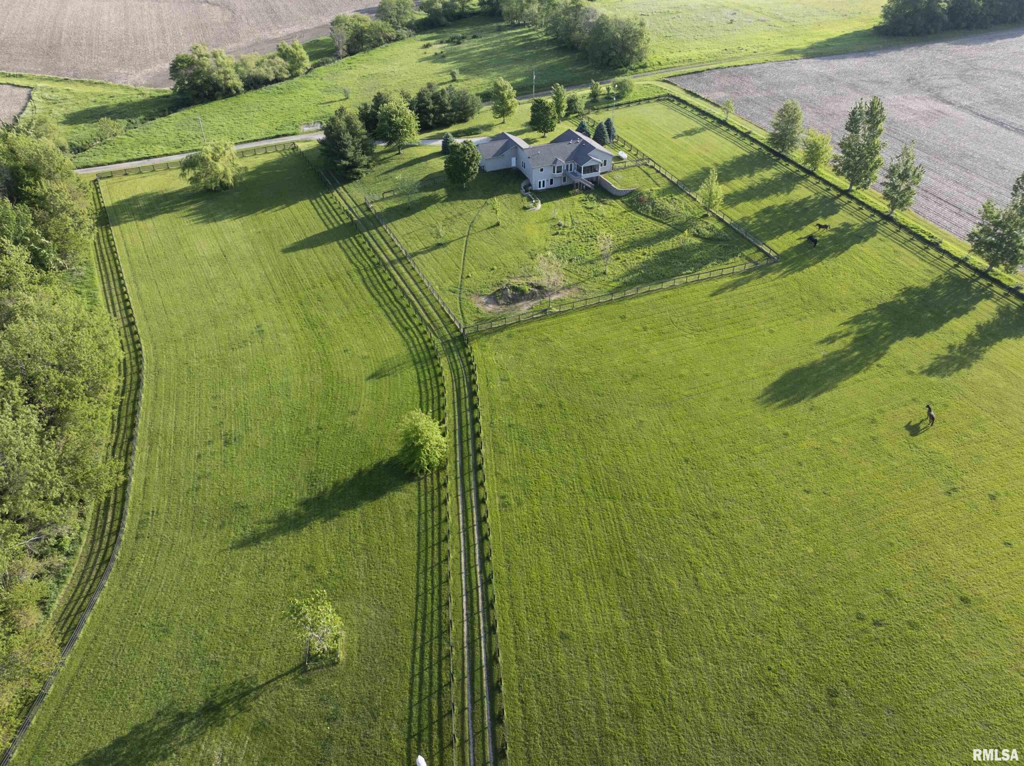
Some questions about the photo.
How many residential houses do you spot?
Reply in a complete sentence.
I count just 1 residential house.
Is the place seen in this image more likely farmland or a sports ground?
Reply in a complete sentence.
The area seen from above is farmland.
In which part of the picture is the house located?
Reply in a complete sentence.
The house is in the top part of the image.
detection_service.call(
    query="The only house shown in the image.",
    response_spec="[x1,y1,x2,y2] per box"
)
[474,129,615,190]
